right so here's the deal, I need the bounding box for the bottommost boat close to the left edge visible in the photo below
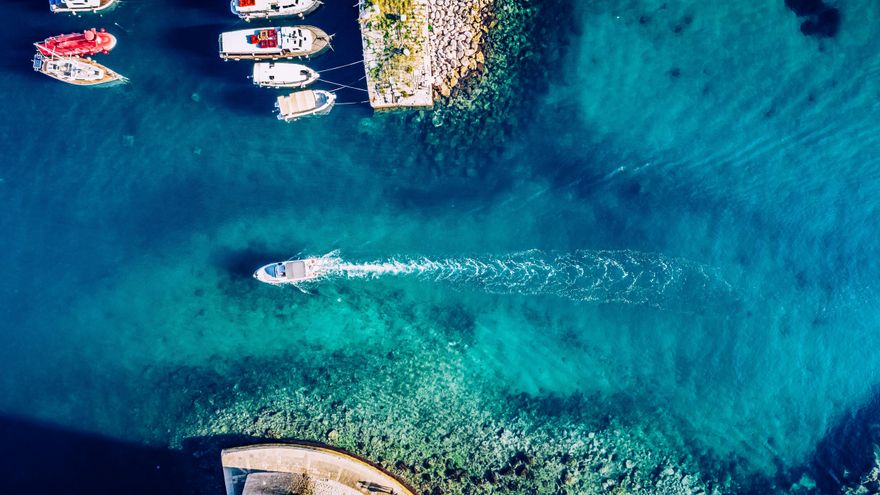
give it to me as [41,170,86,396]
[30,45,129,89]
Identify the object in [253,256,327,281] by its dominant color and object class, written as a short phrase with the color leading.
white boat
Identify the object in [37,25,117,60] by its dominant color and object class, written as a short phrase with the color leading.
red boat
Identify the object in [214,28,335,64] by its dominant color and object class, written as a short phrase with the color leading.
white boat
